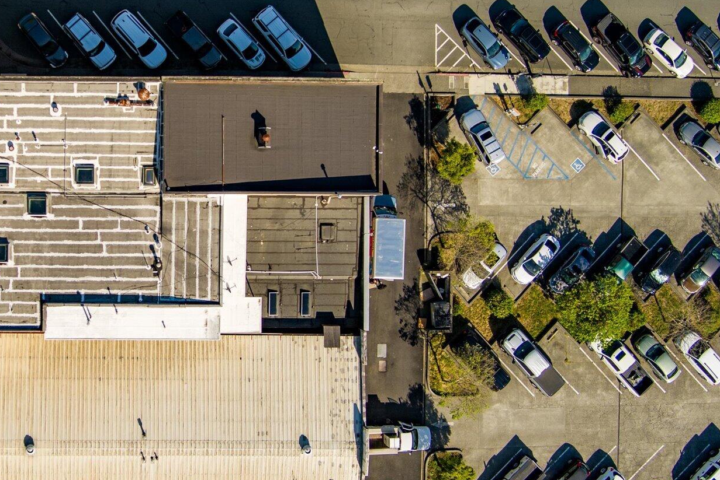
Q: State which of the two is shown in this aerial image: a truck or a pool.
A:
truck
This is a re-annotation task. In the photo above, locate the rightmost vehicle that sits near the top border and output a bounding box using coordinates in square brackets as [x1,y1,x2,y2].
[681,18,720,73]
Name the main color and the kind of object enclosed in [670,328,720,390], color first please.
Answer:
white vehicle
